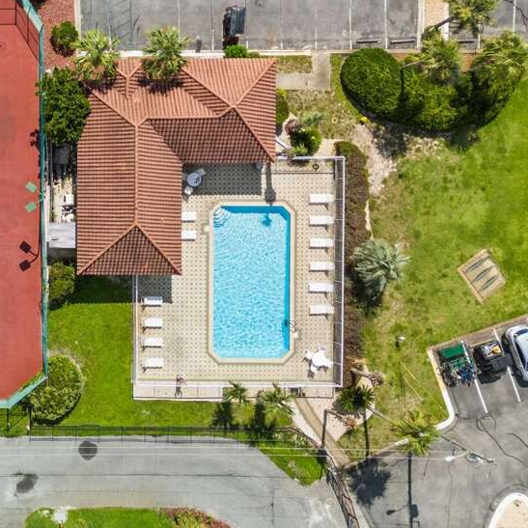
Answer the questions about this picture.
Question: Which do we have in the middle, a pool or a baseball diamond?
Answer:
pool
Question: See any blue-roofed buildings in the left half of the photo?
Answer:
No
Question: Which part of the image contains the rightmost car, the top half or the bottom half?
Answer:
bottom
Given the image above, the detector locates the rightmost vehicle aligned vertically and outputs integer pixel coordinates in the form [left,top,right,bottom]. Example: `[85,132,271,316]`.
[503,327,528,383]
